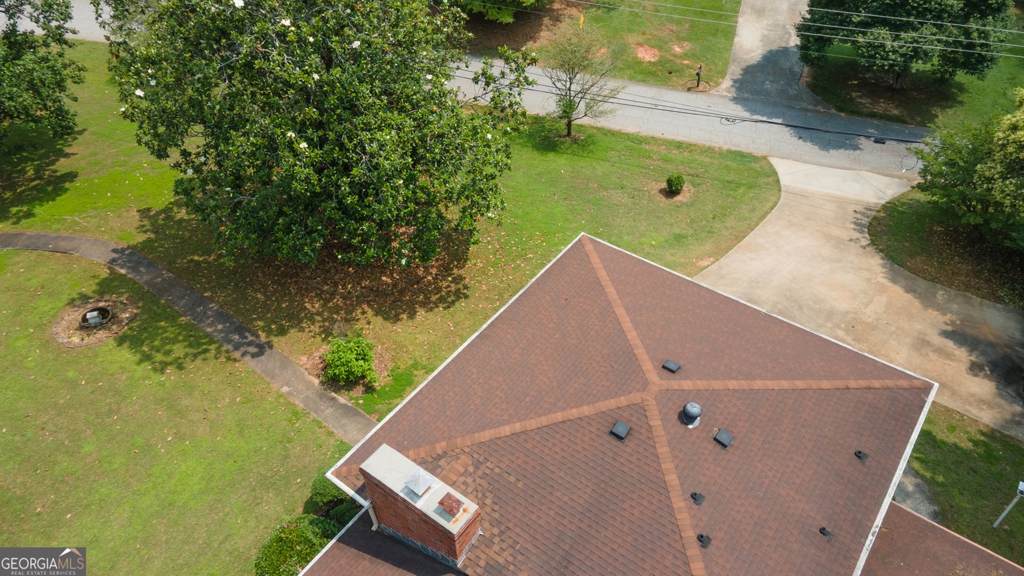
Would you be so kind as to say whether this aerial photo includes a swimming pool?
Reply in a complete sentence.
No, no swimming pool is visible in the scene.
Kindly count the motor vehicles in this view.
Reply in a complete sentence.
The picture shows no motor vehicles.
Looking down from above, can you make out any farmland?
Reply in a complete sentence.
No, there's no farmland in this view.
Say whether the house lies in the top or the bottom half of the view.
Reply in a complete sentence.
Seen from above, the house lies in the bottom half of the view.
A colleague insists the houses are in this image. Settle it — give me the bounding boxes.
[296,234,1024,576]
